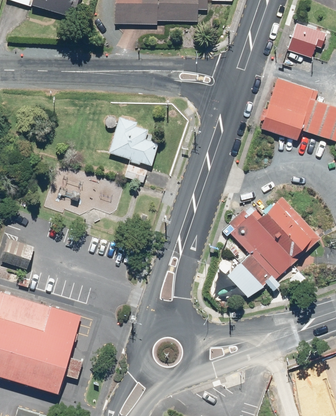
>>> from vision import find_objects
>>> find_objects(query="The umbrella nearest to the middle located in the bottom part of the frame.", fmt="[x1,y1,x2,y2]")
[218,259,232,272]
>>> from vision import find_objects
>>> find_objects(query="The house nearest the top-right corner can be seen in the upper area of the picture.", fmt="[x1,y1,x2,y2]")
[288,22,326,57]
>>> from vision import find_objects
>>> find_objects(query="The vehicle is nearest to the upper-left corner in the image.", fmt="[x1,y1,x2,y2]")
[94,18,106,33]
